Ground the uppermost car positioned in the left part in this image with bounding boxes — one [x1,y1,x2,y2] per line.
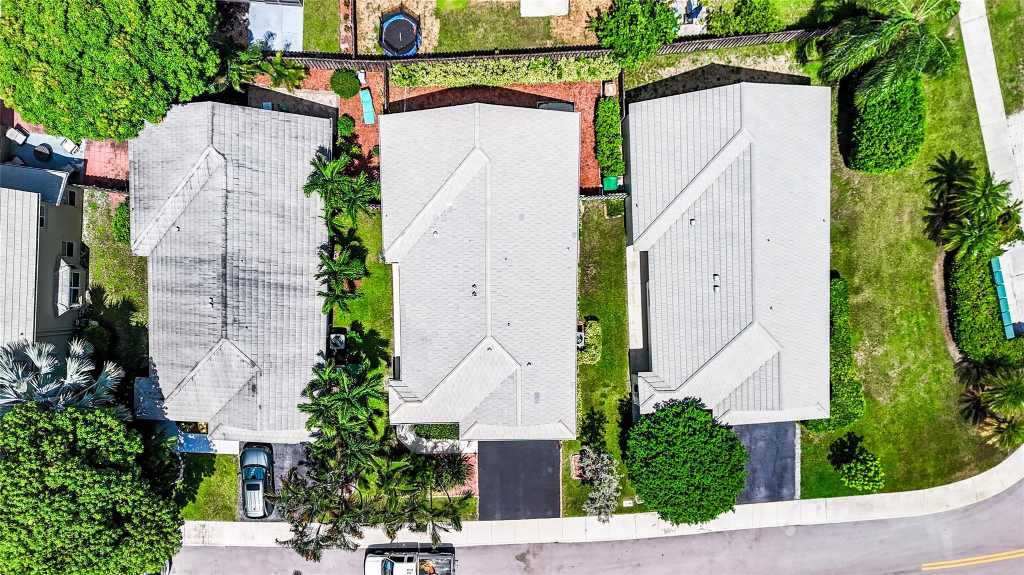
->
[237,443,275,519]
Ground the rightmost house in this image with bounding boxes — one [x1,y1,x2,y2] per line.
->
[625,82,832,425]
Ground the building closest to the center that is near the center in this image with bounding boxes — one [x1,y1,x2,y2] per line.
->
[379,103,581,442]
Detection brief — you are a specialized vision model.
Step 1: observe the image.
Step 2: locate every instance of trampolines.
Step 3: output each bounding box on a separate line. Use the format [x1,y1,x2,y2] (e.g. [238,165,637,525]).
[375,0,422,59]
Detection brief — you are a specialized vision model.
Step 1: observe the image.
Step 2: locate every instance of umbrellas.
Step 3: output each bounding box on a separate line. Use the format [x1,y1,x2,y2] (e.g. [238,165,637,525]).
[683,0,709,25]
